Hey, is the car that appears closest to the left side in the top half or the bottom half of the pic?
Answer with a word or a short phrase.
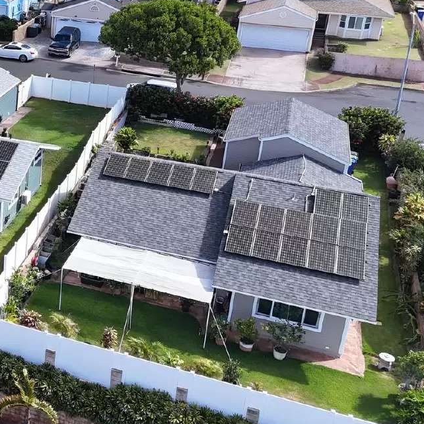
top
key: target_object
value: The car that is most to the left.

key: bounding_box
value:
[0,42,39,62]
